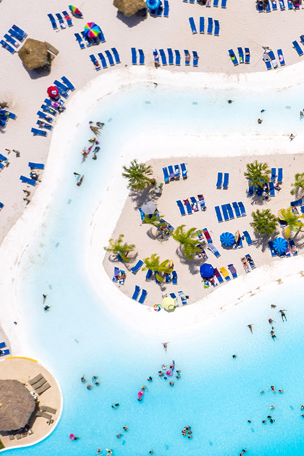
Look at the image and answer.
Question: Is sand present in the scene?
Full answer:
Yes, sand can be seen from above here.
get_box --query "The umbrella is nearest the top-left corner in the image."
[67,3,83,17]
